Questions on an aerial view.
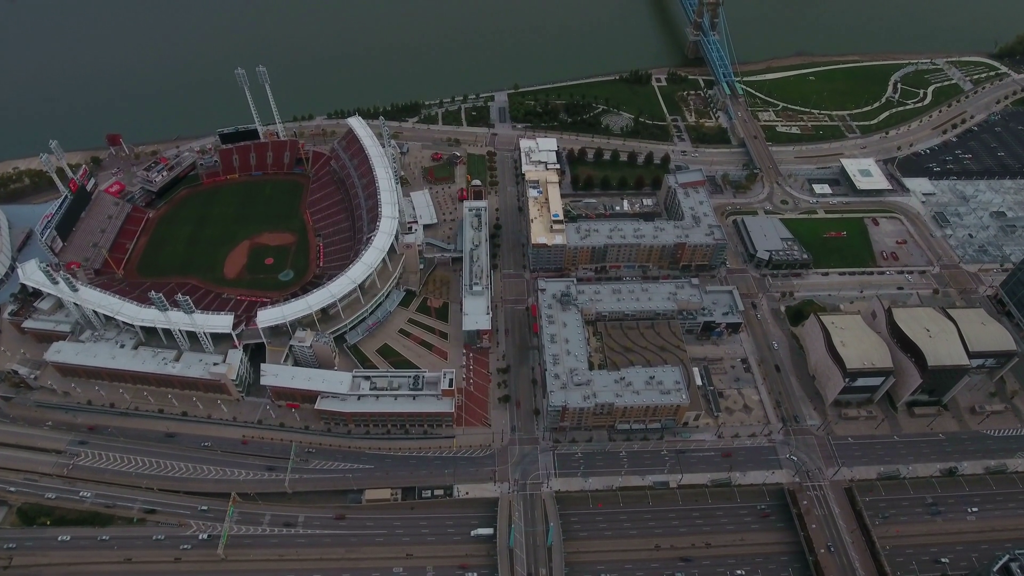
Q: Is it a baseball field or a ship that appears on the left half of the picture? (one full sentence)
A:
Looking on the left half of the picture, you will find a baseball field.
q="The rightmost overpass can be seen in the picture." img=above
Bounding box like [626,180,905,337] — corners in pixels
[786,481,890,576]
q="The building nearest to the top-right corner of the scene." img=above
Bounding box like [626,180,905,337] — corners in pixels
[839,158,893,196]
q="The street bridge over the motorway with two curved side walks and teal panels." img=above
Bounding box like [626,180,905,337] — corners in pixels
[497,490,565,576]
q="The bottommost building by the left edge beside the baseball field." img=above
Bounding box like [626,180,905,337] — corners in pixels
[44,326,226,394]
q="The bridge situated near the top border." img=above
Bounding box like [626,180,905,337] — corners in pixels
[679,0,783,187]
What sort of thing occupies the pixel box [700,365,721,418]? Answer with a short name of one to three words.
shed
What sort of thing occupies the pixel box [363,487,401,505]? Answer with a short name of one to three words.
building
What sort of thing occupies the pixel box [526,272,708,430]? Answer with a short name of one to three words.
building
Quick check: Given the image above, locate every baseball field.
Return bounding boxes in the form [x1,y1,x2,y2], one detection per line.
[124,174,318,295]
